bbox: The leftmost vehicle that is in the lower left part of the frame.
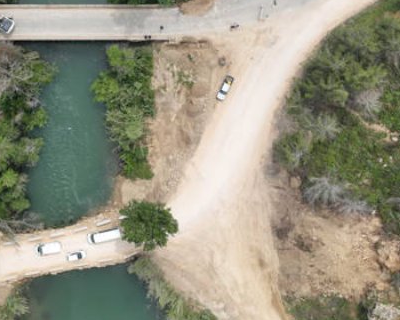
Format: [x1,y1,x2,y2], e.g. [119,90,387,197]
[37,242,62,254]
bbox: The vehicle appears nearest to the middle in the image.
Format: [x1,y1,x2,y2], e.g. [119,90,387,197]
[216,75,234,101]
